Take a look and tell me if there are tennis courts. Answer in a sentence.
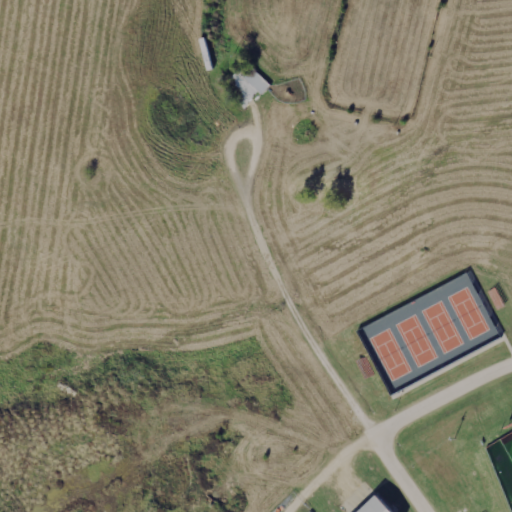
Yes, a tennis court can be made out from above.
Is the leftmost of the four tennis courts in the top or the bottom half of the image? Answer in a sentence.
You can find the leftmost of the four tennis courts in the bottom half.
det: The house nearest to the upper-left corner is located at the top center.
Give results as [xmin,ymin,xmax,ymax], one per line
[233,70,272,107]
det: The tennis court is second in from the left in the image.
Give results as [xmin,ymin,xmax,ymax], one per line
[396,314,437,367]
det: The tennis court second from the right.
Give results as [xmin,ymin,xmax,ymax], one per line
[422,301,464,354]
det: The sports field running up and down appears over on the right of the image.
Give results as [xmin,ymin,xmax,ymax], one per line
[488,433,512,512]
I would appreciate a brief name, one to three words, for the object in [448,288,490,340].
tennis court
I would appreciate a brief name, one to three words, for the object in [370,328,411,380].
tennis court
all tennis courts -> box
[448,288,490,340]
[370,328,411,380]
[396,314,437,367]
[422,301,464,354]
